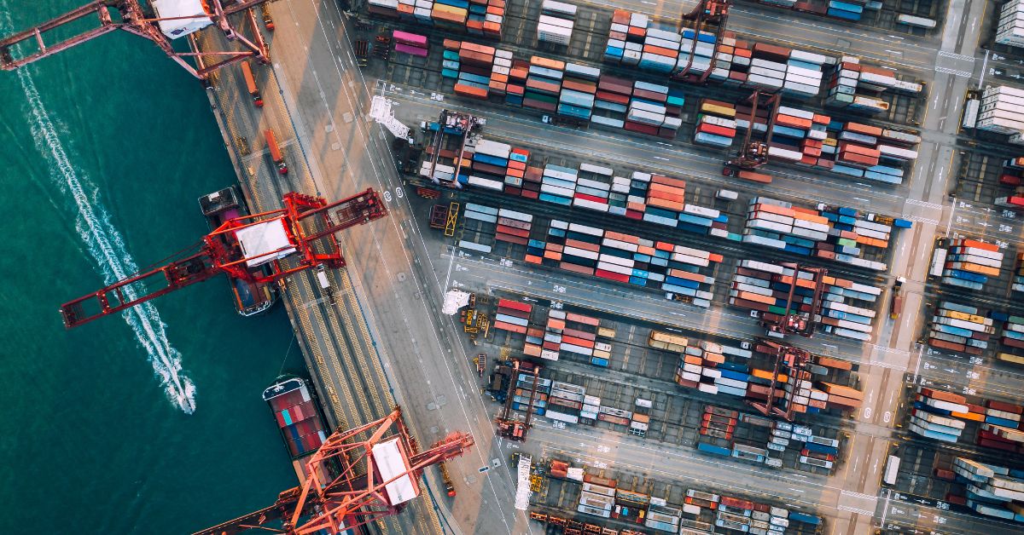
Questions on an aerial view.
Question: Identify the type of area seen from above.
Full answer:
What you see here is a port.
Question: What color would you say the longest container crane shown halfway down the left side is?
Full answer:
The longest container crane shown halfway down the left side is red.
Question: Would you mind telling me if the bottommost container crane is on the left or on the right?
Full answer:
The bottommost container crane sits on the left side.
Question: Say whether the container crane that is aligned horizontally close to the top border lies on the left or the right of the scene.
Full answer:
The container crane that is aligned horizontally close to the top border appears in the left half of the scene.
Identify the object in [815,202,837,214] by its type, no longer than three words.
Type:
vehicle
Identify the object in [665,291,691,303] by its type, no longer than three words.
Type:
vehicle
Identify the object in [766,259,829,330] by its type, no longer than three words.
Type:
crane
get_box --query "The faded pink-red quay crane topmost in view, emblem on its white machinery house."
[0,0,278,92]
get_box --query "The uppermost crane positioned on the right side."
[674,0,733,82]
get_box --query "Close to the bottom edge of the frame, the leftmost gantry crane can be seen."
[187,396,475,535]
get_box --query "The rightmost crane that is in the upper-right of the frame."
[724,88,786,173]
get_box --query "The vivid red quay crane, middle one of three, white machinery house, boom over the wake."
[58,187,391,329]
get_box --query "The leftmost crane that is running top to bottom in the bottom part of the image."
[498,354,545,434]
